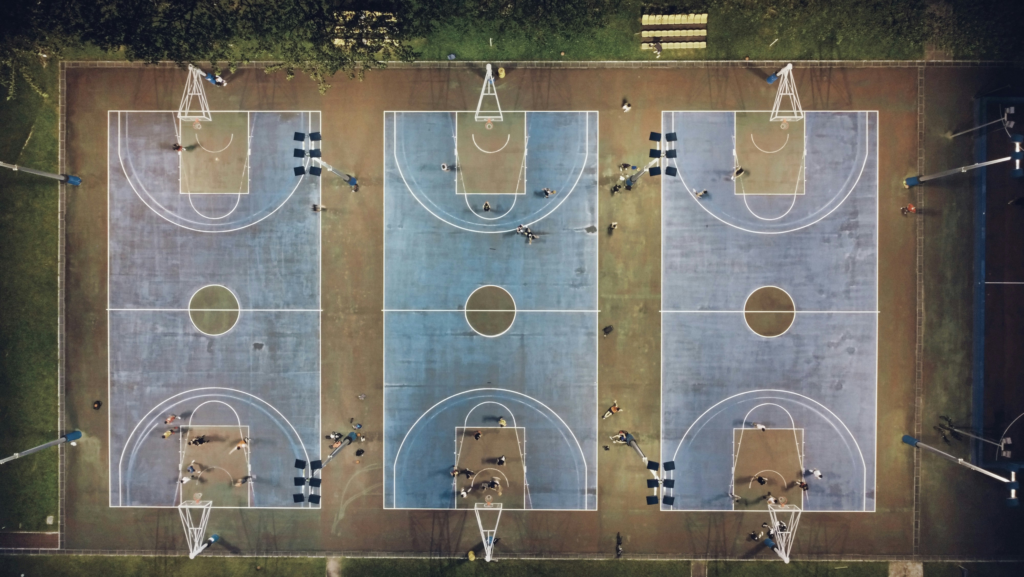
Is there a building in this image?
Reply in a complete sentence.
No, the picture doesn't show any building.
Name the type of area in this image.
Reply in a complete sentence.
It's a sports ground.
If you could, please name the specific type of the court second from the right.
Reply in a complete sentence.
It looks like the court second from the right is a basketball court.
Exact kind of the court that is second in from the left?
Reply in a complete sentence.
Looking closely, the court that is second in from the left is a basketball court.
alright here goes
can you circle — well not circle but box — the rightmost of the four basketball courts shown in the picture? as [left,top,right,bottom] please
[972,97,1024,472]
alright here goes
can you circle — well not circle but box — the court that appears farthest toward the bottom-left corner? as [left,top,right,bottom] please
[106,111,323,509]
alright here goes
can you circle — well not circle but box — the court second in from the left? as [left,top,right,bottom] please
[382,111,600,510]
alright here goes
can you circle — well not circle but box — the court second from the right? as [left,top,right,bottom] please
[659,111,879,512]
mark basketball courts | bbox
[972,97,1024,472]
[106,111,323,509]
[659,111,879,512]
[382,111,600,510]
